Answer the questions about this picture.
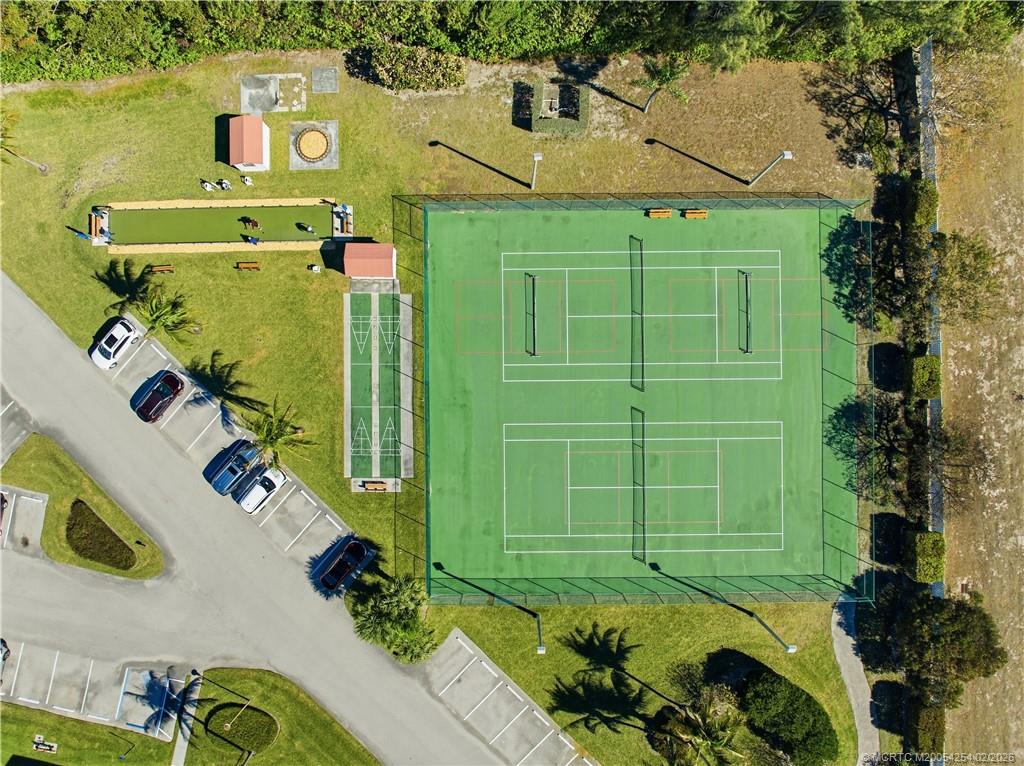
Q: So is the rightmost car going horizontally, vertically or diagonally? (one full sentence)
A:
The rightmost car has been laid out diagonally relative to the frame.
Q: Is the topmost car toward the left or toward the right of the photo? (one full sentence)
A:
The topmost car sits on the left side.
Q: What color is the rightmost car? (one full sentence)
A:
In this view, the rightmost car is black.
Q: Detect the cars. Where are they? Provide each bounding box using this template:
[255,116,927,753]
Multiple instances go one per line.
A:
[240,467,288,518]
[0,640,10,685]
[319,542,367,593]
[212,442,262,495]
[88,320,138,372]
[0,492,8,524]
[134,372,184,423]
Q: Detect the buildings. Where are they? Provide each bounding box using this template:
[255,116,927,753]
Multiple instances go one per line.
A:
[344,243,398,280]
[229,112,270,171]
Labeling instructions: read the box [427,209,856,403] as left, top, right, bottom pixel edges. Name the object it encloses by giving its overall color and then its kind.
green tennis court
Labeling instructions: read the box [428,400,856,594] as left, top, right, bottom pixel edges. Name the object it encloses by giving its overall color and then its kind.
green tennis court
